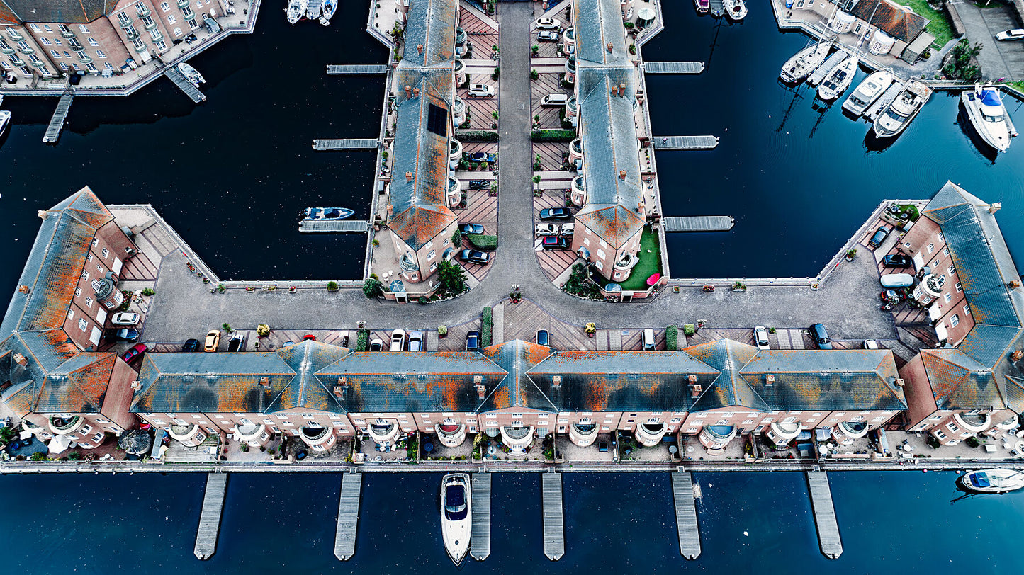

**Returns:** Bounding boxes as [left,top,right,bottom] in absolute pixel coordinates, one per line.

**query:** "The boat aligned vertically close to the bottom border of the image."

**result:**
[441,476,476,563]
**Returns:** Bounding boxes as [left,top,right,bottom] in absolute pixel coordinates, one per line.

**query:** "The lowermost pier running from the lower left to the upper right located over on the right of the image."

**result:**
[864,72,912,121]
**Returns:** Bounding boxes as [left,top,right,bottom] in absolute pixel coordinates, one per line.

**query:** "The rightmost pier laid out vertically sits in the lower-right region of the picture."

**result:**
[806,459,842,559]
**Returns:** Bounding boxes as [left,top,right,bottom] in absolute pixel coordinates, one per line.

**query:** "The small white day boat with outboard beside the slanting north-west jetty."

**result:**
[179,65,207,89]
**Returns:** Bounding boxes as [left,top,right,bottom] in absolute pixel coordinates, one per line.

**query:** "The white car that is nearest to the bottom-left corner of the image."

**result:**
[110,311,145,326]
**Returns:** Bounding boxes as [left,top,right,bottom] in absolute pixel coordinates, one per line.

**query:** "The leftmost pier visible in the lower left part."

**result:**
[196,461,228,560]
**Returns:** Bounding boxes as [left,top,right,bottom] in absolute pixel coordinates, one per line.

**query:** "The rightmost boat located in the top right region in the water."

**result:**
[960,84,1010,149]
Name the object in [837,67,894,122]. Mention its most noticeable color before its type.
white boat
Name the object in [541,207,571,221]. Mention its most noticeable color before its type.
blue car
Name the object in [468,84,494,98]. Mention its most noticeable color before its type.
white car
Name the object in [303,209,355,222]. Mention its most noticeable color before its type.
blue boat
